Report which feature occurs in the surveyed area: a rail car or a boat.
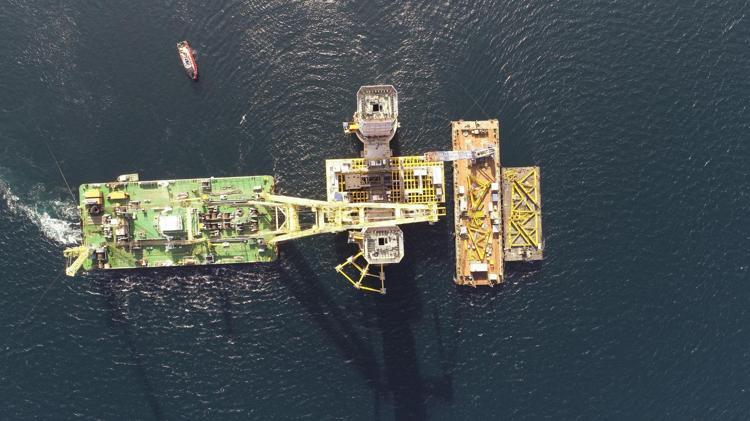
boat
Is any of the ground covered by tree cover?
No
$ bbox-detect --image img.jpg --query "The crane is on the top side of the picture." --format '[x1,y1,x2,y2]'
[423,146,500,165]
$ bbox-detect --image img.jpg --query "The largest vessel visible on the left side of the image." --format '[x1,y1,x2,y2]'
[64,174,447,275]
